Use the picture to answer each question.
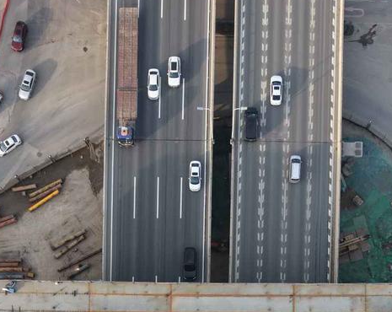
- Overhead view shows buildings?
No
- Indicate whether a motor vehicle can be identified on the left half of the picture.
Yes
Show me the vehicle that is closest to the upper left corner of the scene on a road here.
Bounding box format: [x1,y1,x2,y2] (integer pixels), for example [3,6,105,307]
[11,21,28,53]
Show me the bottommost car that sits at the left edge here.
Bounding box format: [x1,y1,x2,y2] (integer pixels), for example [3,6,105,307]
[0,133,23,158]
